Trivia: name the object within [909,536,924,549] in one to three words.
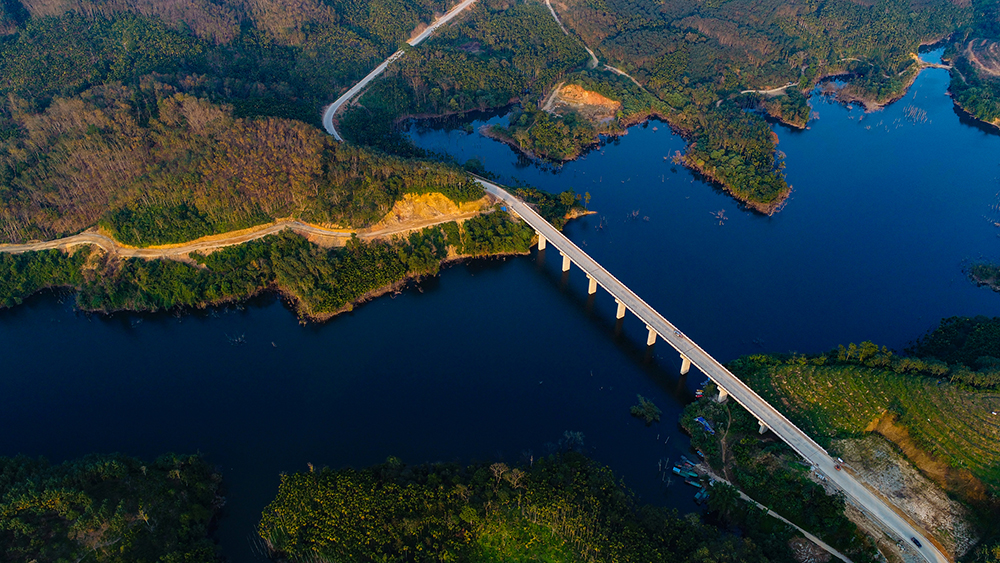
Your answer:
vehicle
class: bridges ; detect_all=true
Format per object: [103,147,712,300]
[509,204,841,476]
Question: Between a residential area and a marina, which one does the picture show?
marina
